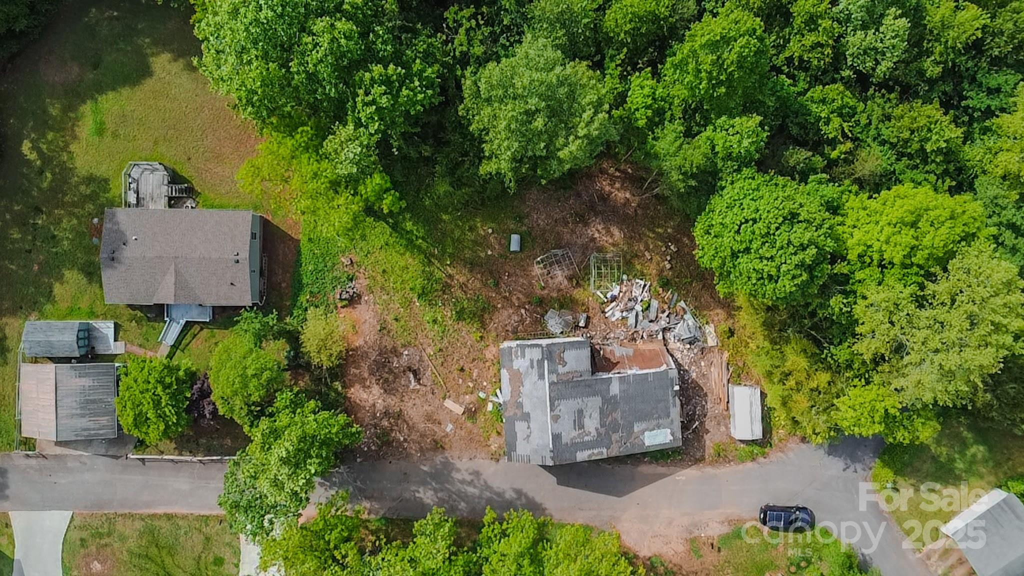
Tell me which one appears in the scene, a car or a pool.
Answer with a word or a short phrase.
car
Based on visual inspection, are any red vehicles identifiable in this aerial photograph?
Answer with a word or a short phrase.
No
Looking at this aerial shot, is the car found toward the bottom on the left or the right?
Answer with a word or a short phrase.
right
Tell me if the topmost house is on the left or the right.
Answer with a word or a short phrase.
left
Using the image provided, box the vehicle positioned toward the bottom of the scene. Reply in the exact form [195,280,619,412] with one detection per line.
[758,503,816,534]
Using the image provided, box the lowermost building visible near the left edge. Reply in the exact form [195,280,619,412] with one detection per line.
[20,363,133,444]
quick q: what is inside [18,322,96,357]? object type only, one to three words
shed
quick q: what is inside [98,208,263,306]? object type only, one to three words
house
